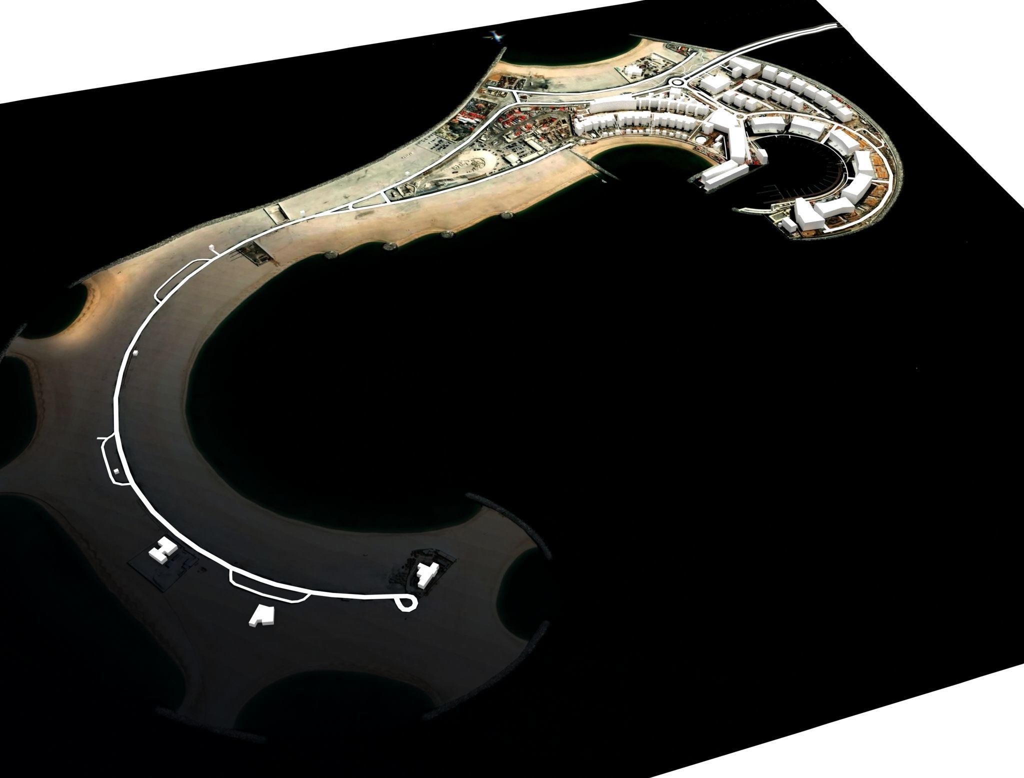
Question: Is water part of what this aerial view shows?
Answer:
Yes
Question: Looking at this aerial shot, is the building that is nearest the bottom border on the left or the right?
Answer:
left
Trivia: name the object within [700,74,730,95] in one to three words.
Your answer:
building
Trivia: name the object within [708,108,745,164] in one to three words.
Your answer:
building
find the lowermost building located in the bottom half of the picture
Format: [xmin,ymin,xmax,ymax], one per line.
[249,604,275,627]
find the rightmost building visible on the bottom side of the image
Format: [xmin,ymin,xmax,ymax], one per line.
[417,562,439,589]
